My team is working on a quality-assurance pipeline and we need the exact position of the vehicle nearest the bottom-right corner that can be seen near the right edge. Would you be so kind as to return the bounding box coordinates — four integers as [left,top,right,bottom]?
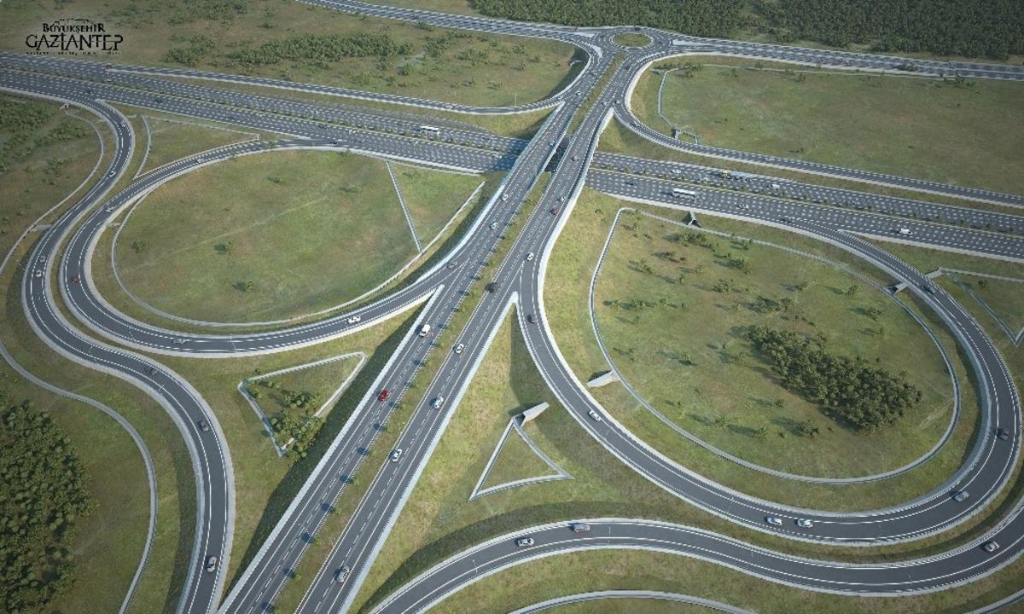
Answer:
[982,540,999,552]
